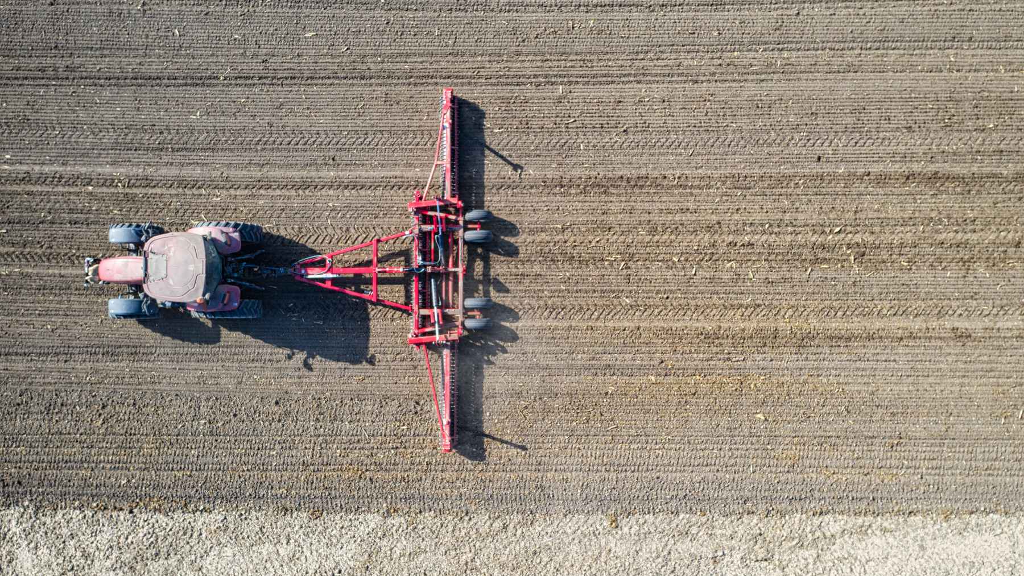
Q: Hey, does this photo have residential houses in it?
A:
No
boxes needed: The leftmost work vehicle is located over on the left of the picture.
[84,218,284,320]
